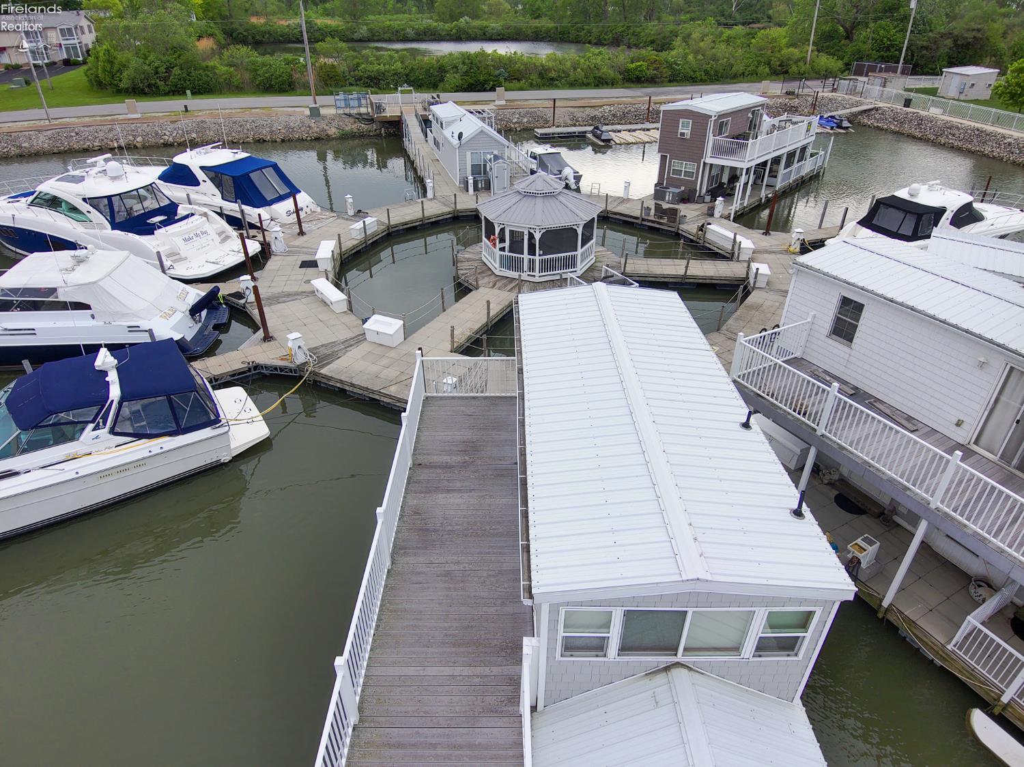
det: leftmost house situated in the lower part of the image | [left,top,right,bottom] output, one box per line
[324,270,857,767]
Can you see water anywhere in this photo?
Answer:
Yes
